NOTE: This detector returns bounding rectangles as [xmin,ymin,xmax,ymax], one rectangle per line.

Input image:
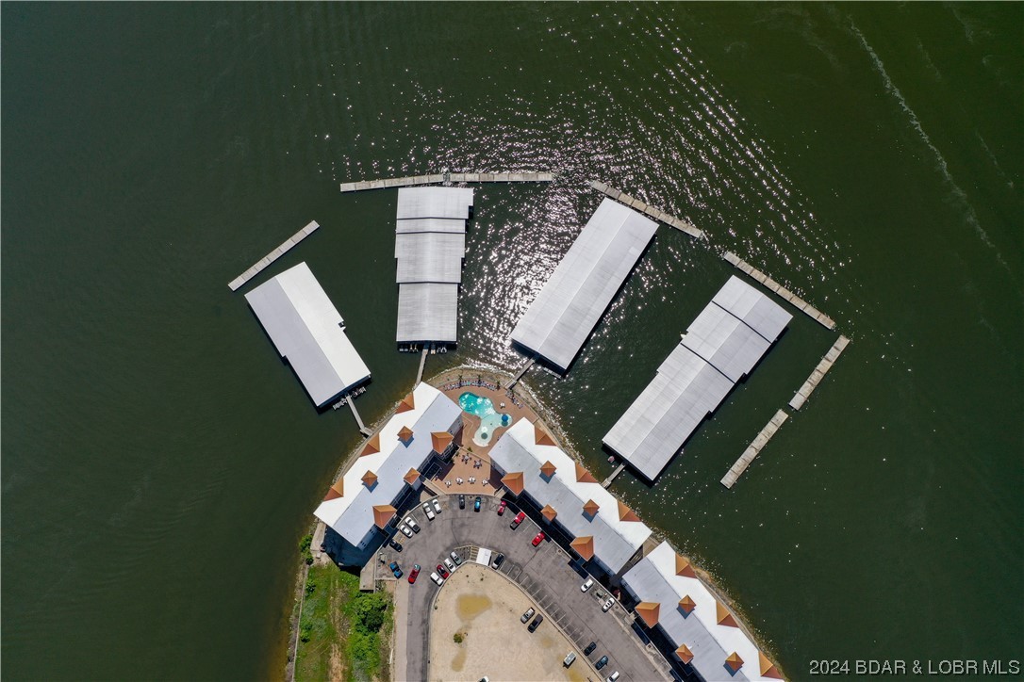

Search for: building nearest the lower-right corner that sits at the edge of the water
[620,541,784,682]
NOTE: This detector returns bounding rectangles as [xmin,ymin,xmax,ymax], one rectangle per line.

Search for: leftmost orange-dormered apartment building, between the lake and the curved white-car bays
[314,382,463,548]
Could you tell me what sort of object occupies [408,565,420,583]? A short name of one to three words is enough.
vehicle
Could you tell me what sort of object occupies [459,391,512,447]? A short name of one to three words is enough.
swimming pool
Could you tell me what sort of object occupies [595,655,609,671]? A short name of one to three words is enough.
car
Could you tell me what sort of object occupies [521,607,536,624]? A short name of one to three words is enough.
car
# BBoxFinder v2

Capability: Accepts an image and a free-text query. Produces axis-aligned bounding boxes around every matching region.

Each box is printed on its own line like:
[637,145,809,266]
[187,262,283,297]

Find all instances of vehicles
[450,552,462,565]
[444,558,456,573]
[499,501,507,515]
[511,512,524,529]
[528,614,544,632]
[606,670,620,682]
[459,494,465,508]
[389,539,403,552]
[423,503,435,521]
[602,598,614,612]
[436,564,449,579]
[584,641,597,656]
[430,572,443,586]
[432,499,442,513]
[581,578,593,592]
[595,655,609,671]
[400,525,412,537]
[389,562,402,578]
[534,533,545,546]
[492,553,504,569]
[406,517,420,533]
[475,497,481,511]
[521,607,536,624]
[408,565,420,583]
